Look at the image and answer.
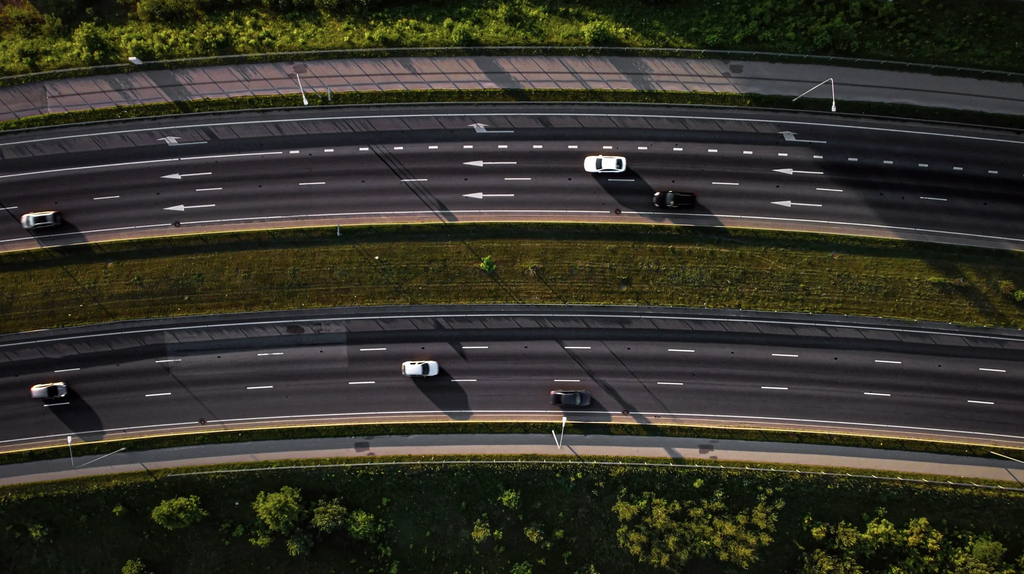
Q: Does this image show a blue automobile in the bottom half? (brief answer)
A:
No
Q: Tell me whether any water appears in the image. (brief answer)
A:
No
